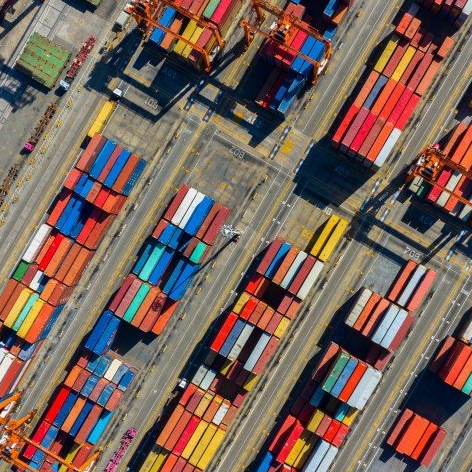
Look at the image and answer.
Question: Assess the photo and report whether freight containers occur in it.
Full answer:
Yes, the photo shows a freight container.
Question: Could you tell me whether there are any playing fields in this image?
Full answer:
No, I can't see a single playing field in this photo.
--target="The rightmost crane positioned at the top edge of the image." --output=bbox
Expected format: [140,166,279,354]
[239,0,334,91]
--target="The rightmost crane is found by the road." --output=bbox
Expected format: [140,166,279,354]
[397,146,472,226]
